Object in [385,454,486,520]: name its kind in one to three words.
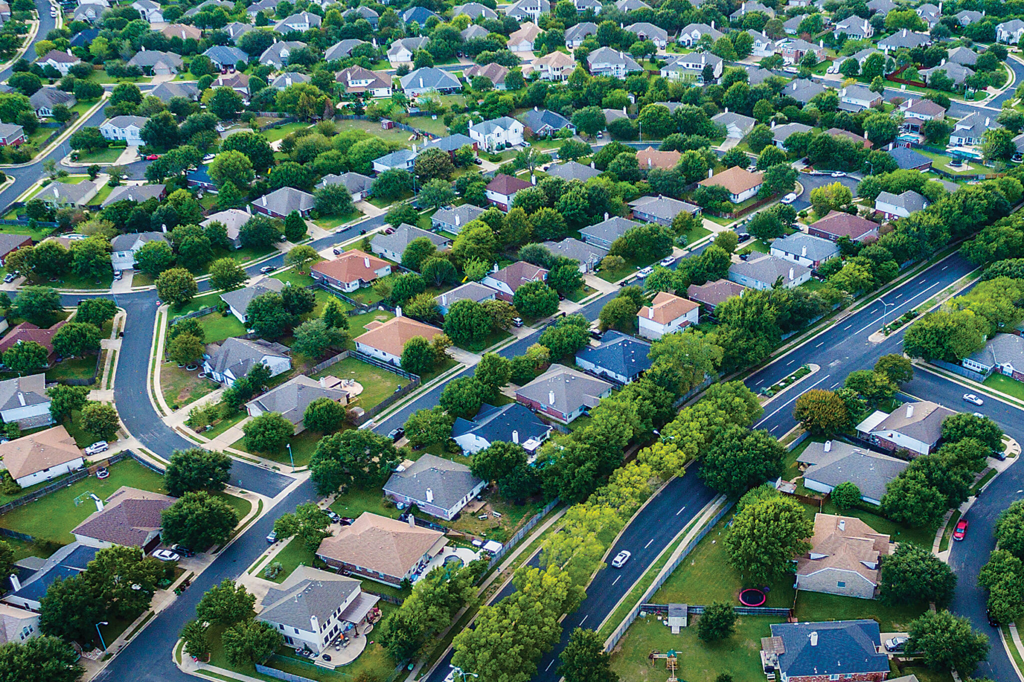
house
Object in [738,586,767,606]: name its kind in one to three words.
trampoline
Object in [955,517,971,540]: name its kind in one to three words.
vehicle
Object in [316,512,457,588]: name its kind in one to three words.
house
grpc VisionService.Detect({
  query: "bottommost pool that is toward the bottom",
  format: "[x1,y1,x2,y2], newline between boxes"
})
[413,537,493,579]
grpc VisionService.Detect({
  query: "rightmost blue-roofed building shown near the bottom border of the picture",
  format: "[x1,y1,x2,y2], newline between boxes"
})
[760,614,894,682]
